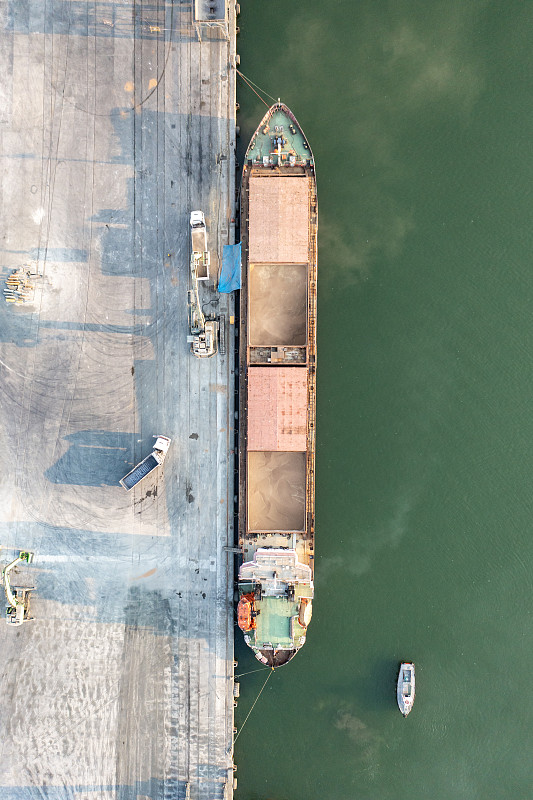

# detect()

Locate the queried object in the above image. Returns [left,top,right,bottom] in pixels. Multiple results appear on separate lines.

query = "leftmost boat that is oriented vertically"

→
[238,596,252,630]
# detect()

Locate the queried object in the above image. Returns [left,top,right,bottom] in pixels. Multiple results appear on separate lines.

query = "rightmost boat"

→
[398,661,417,720]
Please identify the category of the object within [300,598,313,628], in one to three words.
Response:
boat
